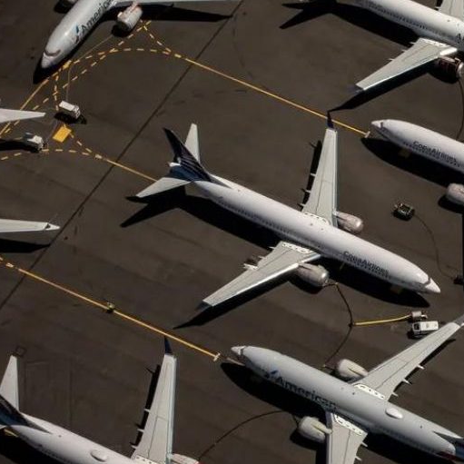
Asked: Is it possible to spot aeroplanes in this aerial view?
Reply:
Yes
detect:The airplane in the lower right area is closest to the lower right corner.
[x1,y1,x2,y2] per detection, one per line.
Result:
[233,312,464,464]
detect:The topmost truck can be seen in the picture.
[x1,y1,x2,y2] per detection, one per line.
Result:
[56,100,82,122]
